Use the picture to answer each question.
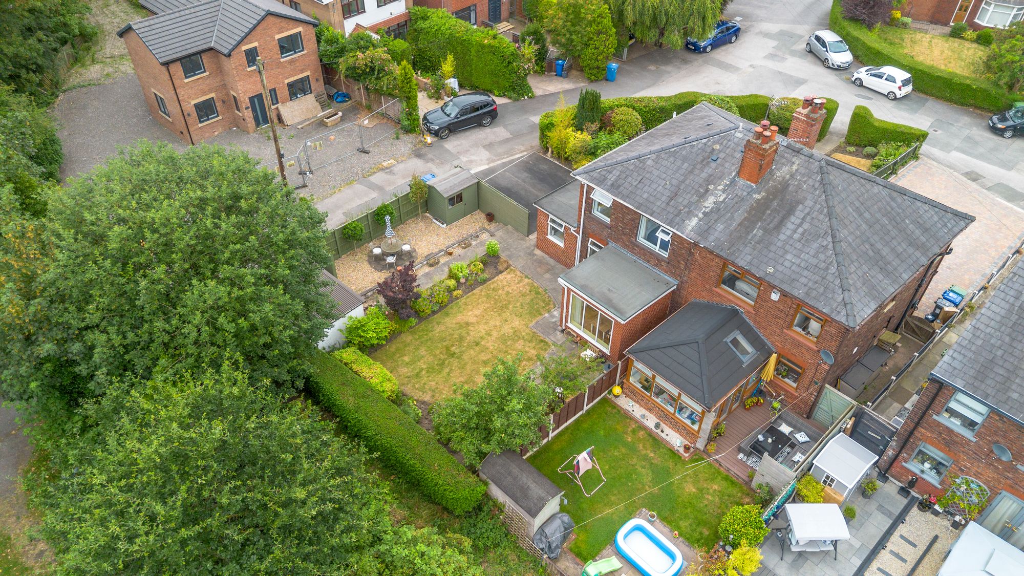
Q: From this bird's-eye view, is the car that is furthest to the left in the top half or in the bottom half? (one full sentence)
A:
The top half of the photo is where the car that is furthest to the left is.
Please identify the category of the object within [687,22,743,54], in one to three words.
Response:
car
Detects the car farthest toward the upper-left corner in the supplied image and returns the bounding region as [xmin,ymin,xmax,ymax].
[420,91,500,140]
